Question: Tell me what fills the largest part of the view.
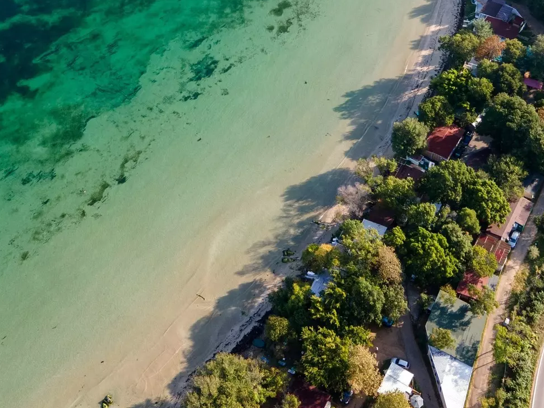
water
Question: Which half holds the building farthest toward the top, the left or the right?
right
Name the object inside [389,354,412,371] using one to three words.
car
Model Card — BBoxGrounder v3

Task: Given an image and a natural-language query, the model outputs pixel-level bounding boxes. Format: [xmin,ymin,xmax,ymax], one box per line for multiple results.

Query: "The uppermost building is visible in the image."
[476,0,526,40]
